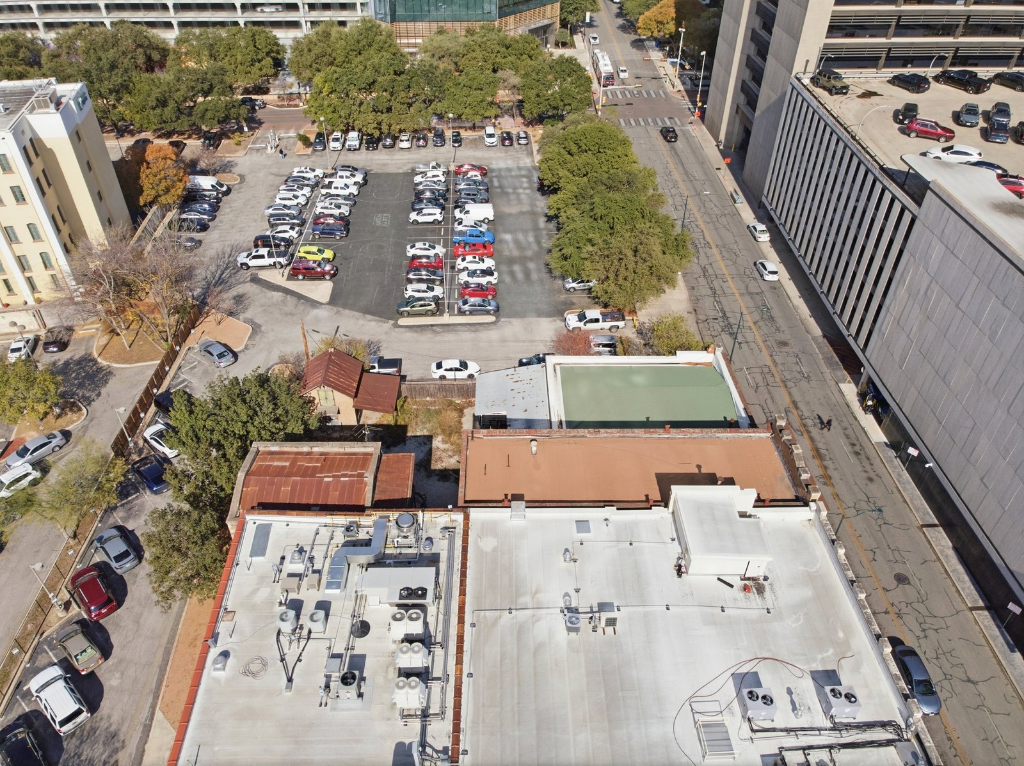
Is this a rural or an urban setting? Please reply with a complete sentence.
It looks urban.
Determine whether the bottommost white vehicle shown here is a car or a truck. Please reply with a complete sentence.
The bottommost white vehicle can be classified as a car.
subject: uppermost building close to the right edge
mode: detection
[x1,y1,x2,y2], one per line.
[705,0,1024,213]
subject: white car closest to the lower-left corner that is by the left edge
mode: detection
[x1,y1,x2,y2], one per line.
[29,663,95,740]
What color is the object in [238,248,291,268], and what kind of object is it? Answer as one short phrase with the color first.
white vehicle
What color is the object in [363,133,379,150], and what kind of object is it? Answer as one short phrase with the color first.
black car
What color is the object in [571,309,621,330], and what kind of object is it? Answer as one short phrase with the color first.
white truck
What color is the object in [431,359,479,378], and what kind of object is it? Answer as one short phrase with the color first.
white car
